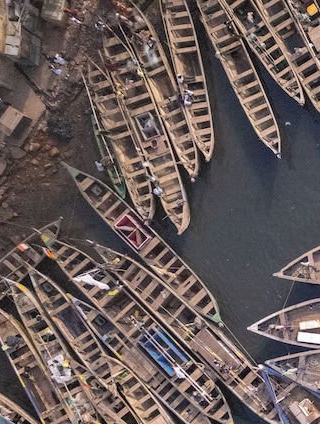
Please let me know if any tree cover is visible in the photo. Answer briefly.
No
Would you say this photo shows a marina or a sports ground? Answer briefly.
marina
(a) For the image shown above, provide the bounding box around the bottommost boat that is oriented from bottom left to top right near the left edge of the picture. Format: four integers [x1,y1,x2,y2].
[0,210,71,290]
